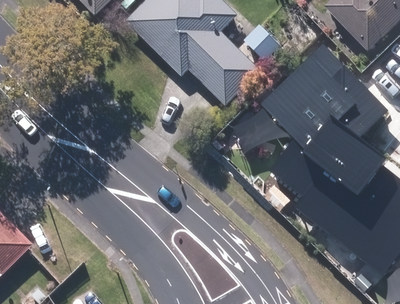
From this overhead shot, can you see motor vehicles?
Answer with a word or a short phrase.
Yes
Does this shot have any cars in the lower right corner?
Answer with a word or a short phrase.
No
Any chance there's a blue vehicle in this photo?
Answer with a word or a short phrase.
Yes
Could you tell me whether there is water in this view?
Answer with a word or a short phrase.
No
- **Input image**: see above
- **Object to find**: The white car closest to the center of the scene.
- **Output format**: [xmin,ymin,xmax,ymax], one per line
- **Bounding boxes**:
[160,96,180,126]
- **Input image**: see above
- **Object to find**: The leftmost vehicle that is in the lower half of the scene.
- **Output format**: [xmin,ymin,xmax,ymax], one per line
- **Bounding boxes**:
[30,224,50,254]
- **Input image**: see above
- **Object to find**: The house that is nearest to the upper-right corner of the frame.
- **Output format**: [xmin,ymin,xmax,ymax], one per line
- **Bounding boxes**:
[325,0,400,52]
